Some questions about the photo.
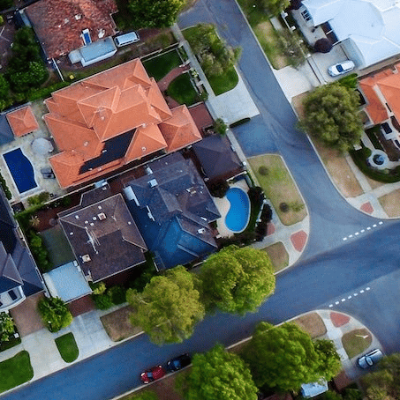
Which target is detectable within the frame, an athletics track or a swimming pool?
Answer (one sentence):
There is a swimming pool in the scene.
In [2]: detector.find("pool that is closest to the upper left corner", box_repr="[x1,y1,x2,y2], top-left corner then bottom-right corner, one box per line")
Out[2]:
[1,147,43,196]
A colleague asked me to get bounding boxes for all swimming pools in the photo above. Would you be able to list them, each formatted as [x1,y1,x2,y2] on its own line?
[1,147,43,196]
[223,186,256,234]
